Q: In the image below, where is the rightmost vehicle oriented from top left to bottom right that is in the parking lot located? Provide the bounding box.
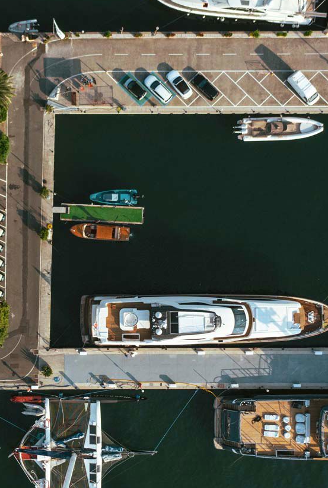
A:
[286,69,320,107]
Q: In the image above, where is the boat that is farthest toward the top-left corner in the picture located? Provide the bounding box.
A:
[8,19,39,32]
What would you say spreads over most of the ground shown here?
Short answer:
water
